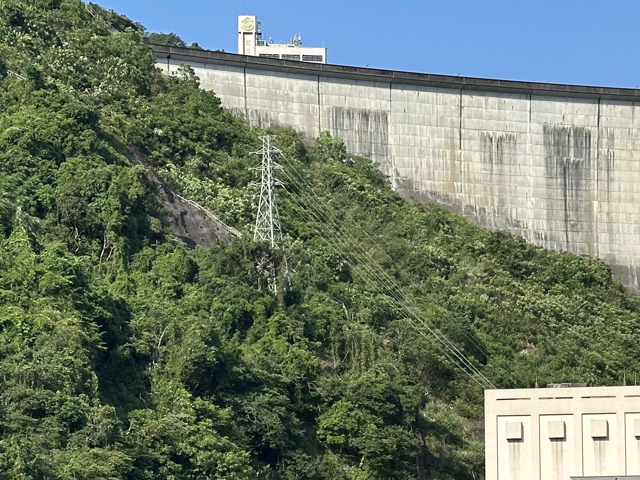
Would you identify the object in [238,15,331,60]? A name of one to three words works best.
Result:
building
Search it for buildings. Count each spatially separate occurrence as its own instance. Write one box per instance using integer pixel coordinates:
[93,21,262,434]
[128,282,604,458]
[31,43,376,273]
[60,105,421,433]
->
[238,15,331,60]
[486,380,640,480]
